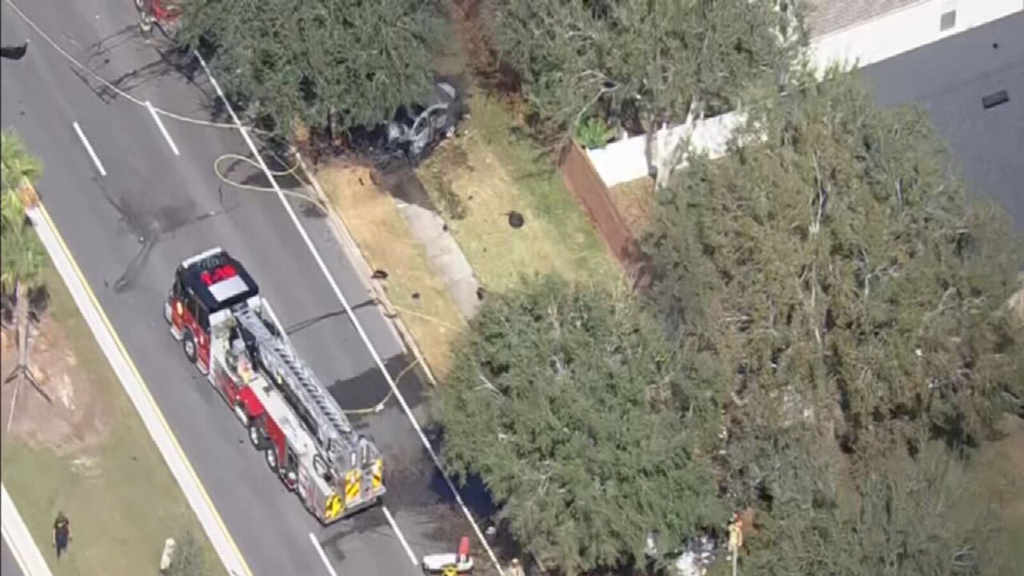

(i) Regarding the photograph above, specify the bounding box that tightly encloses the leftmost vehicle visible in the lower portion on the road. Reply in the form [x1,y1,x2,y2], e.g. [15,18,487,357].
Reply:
[165,236,382,526]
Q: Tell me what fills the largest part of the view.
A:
trees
